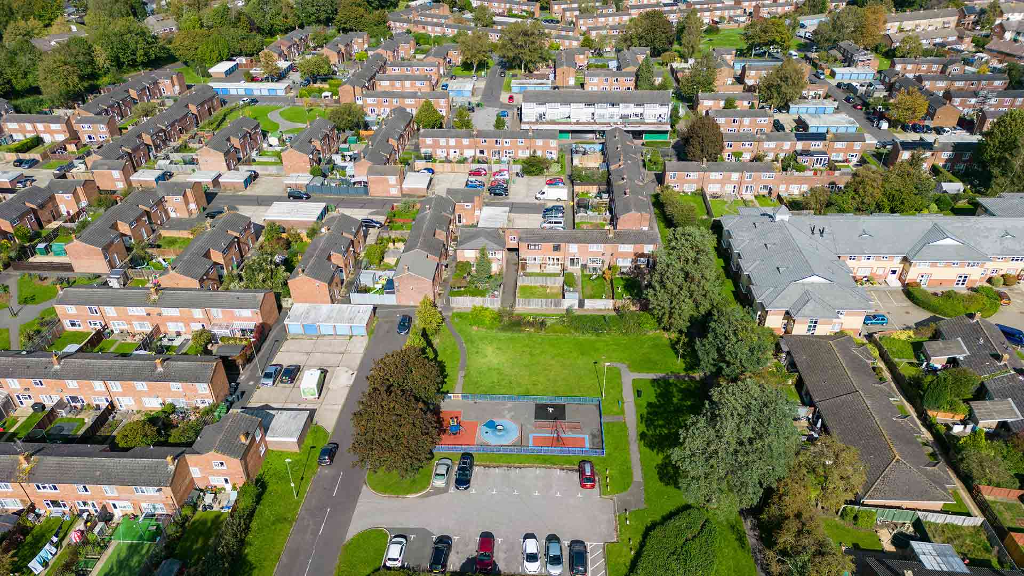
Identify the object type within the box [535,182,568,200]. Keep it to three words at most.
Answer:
vehicle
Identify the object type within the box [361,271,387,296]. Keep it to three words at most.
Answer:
shed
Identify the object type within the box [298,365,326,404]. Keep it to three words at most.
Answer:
trailer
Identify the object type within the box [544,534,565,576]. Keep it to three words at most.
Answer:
car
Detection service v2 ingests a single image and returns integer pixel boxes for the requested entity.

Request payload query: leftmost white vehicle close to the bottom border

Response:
[383,535,407,572]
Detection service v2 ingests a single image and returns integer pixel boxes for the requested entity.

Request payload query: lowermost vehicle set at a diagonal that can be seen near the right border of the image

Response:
[997,324,1024,347]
